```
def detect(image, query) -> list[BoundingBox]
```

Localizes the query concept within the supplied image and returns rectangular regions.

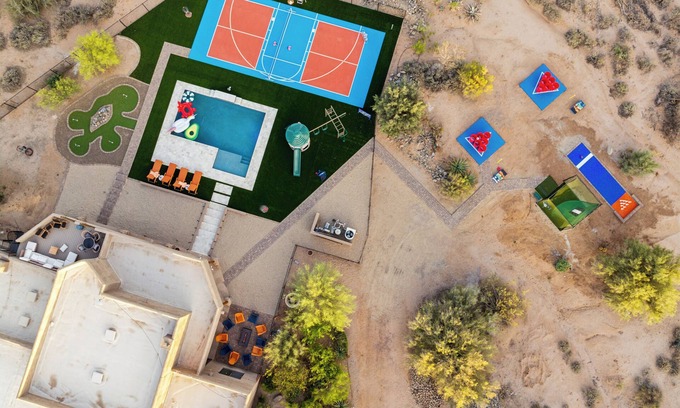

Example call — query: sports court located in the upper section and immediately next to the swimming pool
[188,0,386,107]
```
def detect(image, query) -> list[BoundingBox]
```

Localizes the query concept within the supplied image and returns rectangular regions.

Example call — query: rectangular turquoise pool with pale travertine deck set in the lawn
[151,80,278,191]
